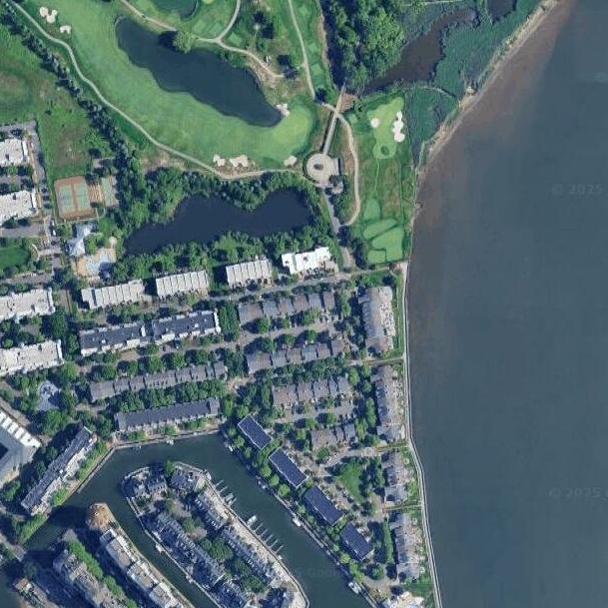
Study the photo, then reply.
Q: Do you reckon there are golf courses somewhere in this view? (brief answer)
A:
Yes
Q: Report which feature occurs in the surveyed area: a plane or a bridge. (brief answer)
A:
bridge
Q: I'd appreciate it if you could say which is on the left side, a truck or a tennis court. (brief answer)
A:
tennis court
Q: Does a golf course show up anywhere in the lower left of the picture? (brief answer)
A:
No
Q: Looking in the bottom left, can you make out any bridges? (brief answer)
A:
Yes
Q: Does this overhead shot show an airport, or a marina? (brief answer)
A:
marina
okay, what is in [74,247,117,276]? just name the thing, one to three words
swimming pool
